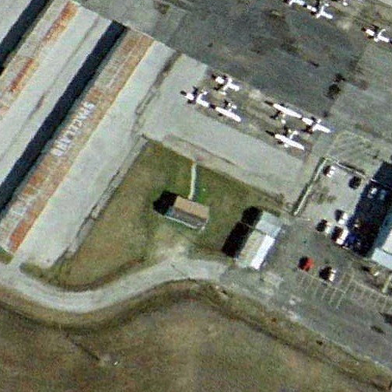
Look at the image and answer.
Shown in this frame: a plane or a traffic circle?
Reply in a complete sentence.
Visible in the photo is a plane.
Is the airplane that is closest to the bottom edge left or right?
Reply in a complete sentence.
You can find the airplane that is closest to the bottom edge on the right side of the picture.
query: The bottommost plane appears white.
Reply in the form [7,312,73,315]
[275,128,305,151]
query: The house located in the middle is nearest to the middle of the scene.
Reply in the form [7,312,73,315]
[164,197,209,227]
